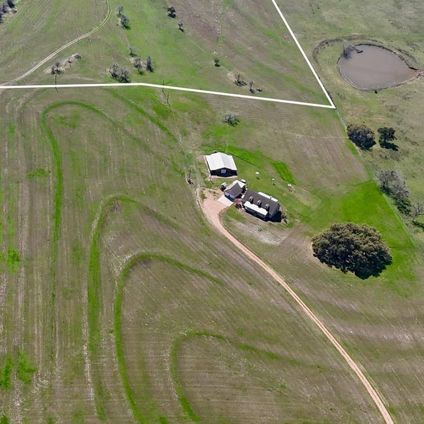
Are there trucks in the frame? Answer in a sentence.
No, I find no truck anywhere in the image.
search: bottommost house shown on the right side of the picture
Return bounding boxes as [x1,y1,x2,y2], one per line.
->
[241,191,287,221]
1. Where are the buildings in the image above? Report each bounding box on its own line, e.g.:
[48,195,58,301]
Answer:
[224,177,253,199]
[241,191,287,221]
[207,150,239,174]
